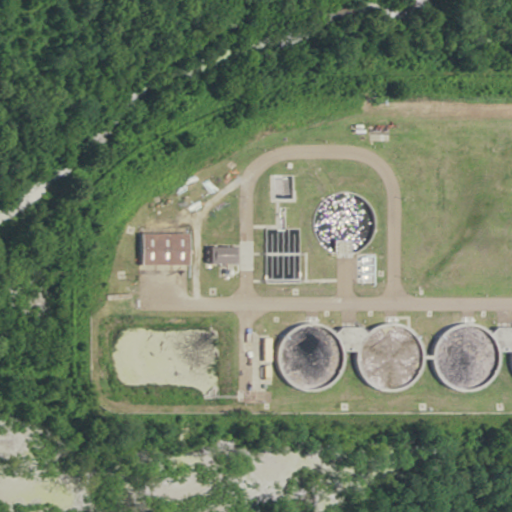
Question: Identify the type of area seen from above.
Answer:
industrial area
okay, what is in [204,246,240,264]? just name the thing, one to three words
building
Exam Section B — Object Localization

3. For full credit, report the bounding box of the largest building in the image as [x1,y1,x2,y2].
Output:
[143,234,191,264]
